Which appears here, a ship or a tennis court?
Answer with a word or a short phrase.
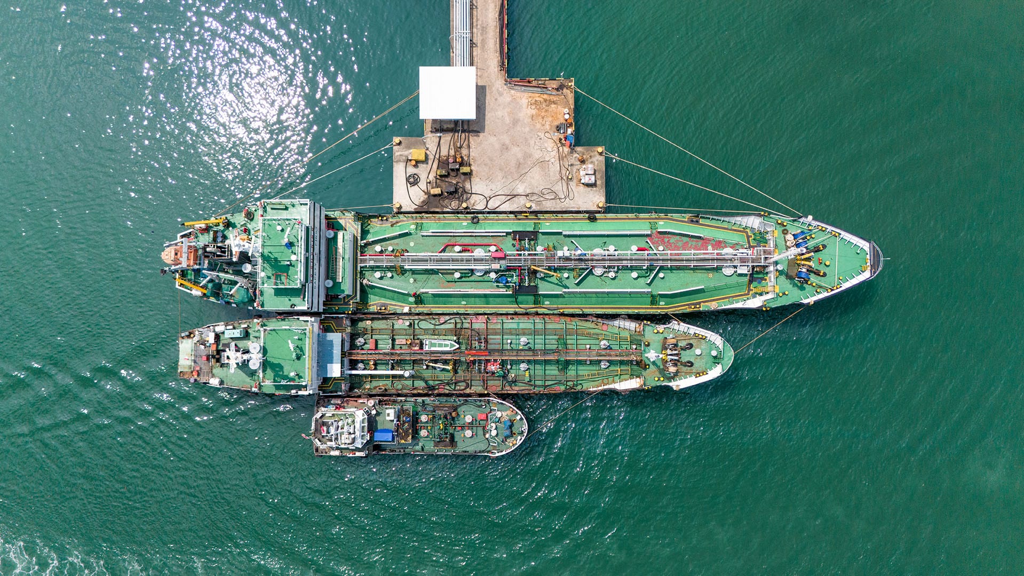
ship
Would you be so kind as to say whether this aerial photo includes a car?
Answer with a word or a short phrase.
No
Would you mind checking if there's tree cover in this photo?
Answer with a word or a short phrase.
No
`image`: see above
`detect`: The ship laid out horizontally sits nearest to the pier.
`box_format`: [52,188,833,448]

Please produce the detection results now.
[159,198,890,315]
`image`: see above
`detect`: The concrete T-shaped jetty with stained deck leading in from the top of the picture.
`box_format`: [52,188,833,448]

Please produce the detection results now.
[393,0,605,216]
